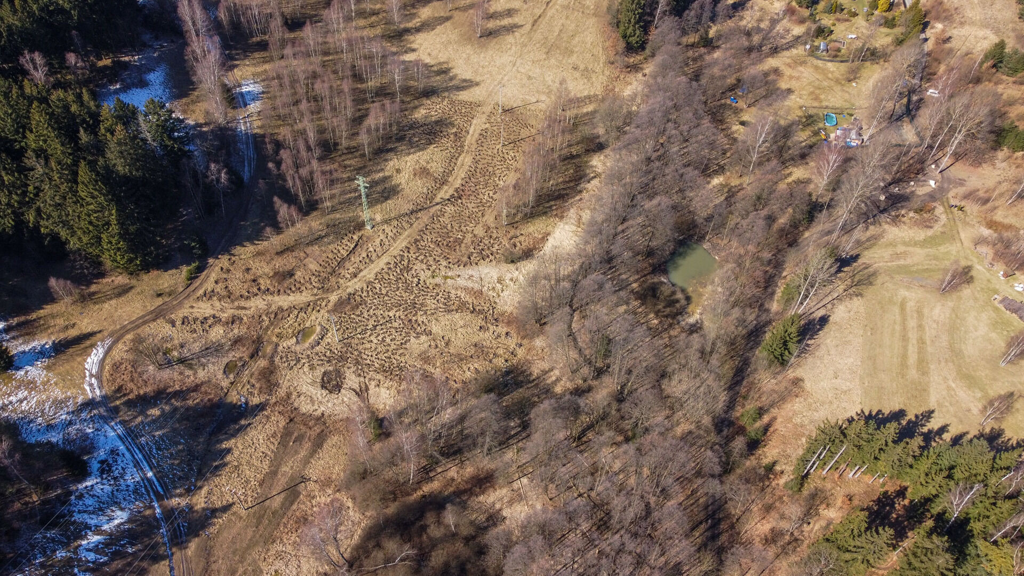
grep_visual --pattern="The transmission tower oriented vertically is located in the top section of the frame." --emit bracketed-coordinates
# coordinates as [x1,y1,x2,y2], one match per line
[355,177,374,232]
